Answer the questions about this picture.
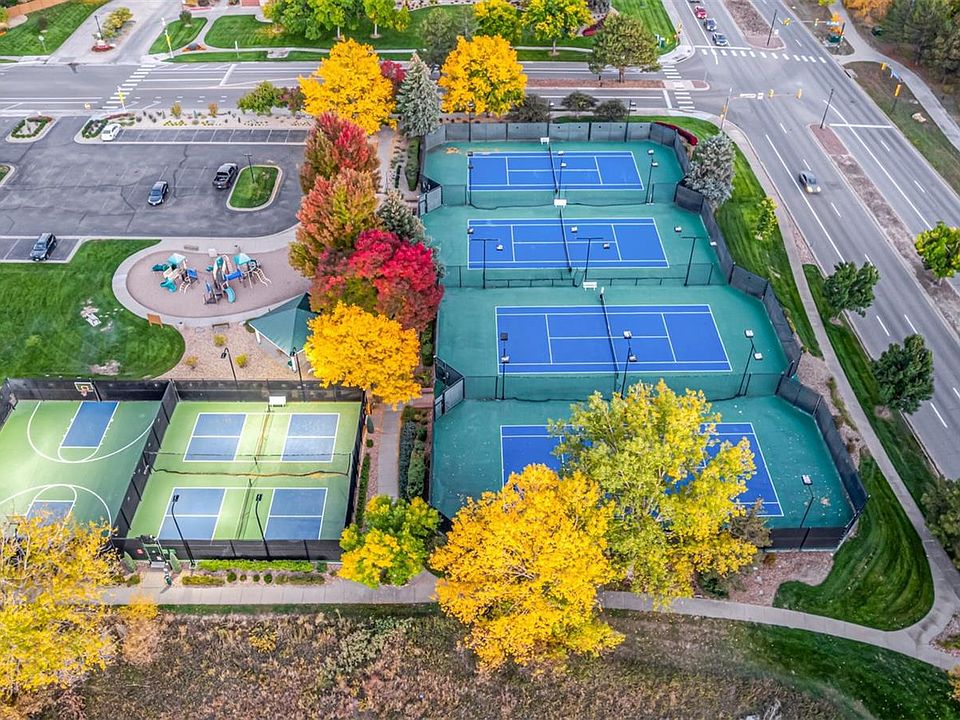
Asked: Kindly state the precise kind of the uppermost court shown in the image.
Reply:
tennis court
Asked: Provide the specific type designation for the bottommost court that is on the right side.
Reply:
tennis court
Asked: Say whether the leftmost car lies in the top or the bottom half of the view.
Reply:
top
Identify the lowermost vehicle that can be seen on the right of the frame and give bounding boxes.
[799,172,821,194]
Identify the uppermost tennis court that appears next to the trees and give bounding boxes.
[427,141,685,205]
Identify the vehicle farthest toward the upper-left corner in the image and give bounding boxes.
[98,125,120,141]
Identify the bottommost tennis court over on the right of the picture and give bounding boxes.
[432,395,857,529]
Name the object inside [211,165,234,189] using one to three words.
truck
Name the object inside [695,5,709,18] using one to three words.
vehicle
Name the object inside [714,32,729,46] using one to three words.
car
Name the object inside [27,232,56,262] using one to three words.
car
